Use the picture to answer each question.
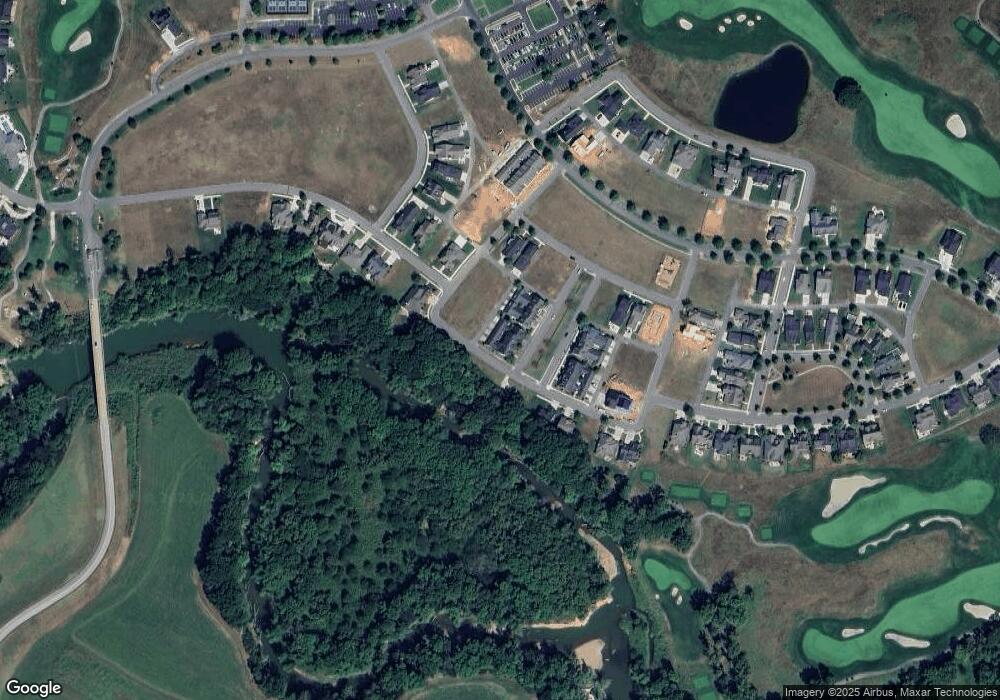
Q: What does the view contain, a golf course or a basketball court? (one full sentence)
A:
The image shows a golf course.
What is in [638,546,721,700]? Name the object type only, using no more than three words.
golf course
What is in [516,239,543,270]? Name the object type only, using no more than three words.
house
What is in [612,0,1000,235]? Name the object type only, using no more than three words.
golf course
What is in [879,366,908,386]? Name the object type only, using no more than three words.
house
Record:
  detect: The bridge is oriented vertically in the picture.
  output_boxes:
[89,299,108,420]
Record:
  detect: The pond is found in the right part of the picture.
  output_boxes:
[714,45,811,143]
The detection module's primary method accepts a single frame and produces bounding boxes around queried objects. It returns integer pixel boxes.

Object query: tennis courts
[267,0,287,15]
[287,0,308,15]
